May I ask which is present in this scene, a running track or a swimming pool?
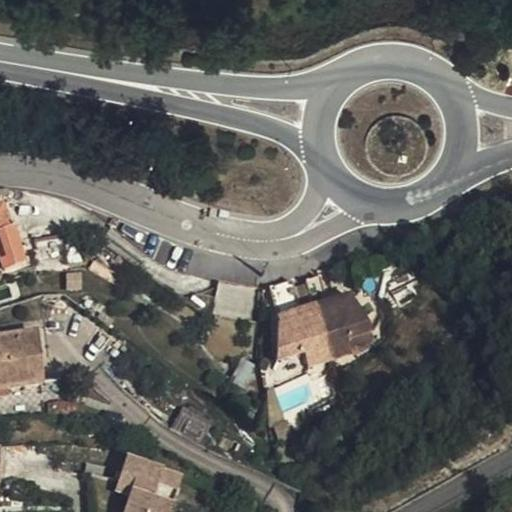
swimming pool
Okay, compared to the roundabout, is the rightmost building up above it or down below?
below it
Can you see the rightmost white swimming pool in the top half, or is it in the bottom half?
bottom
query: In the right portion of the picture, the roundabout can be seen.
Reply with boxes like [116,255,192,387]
[297,40,510,226]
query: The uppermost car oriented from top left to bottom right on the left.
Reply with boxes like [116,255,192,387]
[120,224,144,242]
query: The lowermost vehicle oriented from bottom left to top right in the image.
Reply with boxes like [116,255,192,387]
[84,334,106,360]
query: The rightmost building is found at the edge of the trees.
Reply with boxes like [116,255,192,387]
[379,266,418,308]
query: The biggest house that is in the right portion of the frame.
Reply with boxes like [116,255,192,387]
[278,292,375,368]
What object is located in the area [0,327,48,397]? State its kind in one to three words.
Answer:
house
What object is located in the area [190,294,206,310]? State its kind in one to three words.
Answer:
vehicle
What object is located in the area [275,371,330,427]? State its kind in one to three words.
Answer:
swimming pool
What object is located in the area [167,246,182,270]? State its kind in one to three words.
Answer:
car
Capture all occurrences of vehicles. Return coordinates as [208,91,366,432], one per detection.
[190,294,206,310]
[178,248,194,270]
[84,334,106,360]
[167,246,182,270]
[67,313,82,338]
[44,320,60,330]
[18,205,40,216]
[120,224,144,242]
[146,233,158,255]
